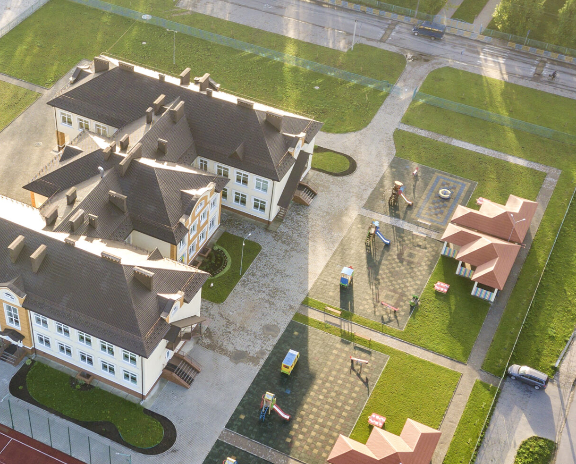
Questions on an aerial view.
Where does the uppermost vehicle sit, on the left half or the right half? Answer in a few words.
right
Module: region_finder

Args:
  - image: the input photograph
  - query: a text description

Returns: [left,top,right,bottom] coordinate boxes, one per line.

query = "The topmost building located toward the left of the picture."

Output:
[0,54,325,398]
